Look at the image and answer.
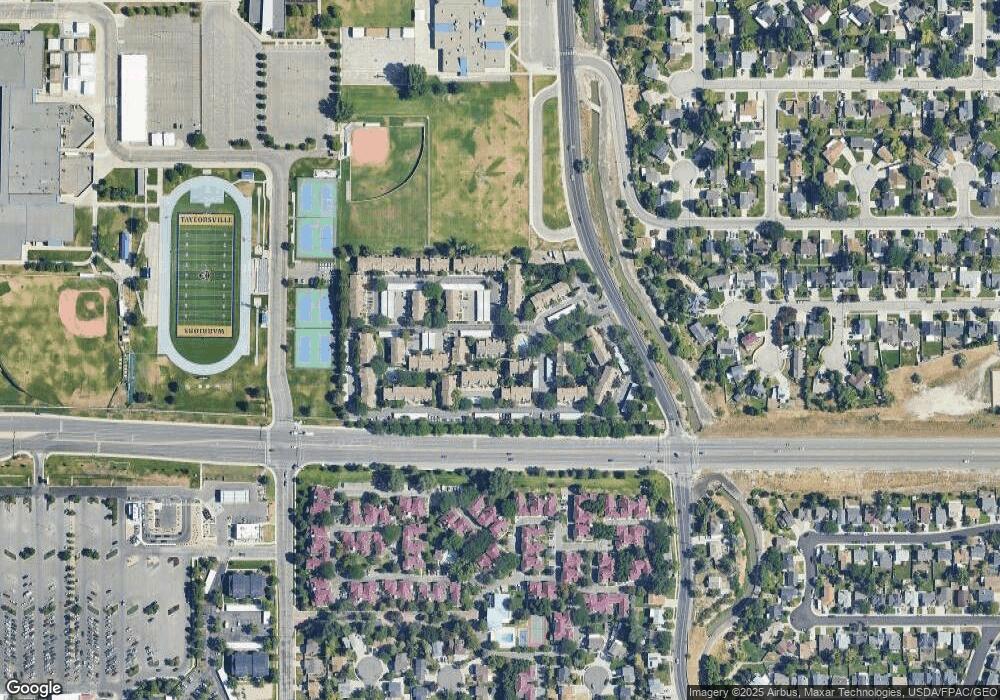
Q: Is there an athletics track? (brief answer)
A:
Yes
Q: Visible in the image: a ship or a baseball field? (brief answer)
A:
baseball field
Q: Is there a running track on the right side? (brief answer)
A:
No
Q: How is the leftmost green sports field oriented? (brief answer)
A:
up and down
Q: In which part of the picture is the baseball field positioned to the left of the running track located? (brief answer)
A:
left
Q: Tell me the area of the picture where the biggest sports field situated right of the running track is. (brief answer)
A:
top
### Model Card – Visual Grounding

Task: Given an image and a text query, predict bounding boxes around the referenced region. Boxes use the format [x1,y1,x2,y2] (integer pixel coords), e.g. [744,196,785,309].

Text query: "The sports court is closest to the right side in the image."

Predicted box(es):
[527,616,547,647]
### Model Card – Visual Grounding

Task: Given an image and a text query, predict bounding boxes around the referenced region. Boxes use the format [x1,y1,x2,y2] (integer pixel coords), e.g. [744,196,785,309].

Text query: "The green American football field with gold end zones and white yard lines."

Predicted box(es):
[171,191,240,364]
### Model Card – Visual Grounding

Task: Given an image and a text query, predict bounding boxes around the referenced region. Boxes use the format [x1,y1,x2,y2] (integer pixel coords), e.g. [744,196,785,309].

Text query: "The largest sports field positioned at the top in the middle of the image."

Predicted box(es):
[340,77,530,252]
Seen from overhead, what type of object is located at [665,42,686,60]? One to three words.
house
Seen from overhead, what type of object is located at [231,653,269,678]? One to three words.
building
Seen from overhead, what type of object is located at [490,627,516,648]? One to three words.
swimming pool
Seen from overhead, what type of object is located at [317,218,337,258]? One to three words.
tennis court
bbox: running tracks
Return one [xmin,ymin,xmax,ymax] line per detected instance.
[158,177,251,375]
